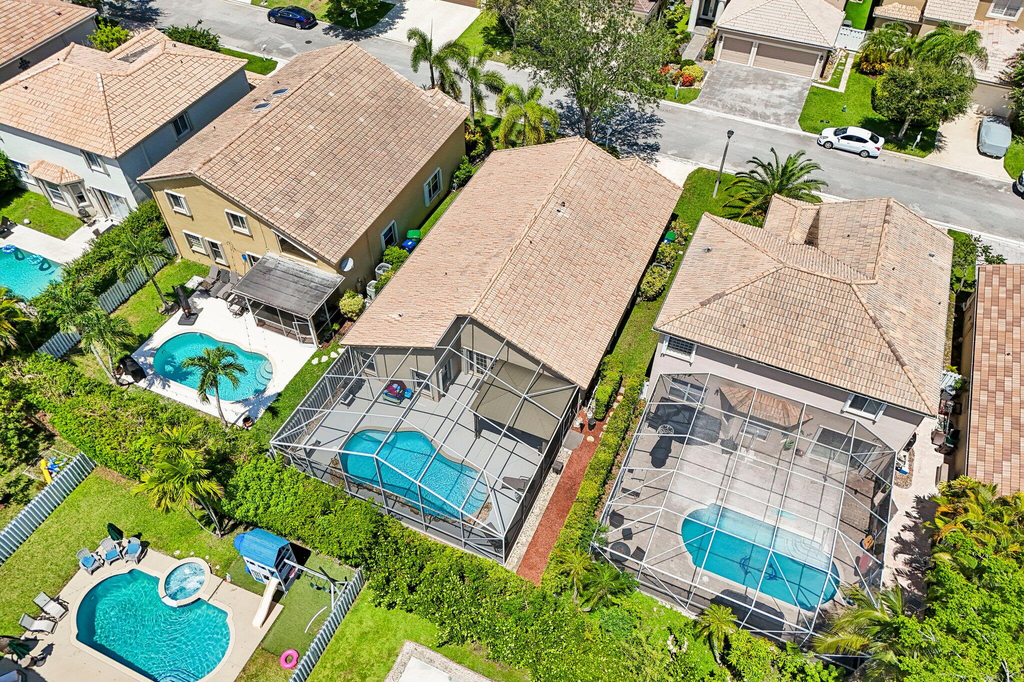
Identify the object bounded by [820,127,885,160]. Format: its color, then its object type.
white car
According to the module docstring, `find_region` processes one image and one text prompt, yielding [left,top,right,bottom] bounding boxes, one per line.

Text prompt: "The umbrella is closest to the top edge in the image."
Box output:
[171,280,198,326]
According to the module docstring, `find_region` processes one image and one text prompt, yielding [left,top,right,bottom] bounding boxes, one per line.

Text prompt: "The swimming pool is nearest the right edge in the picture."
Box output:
[675,497,847,618]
